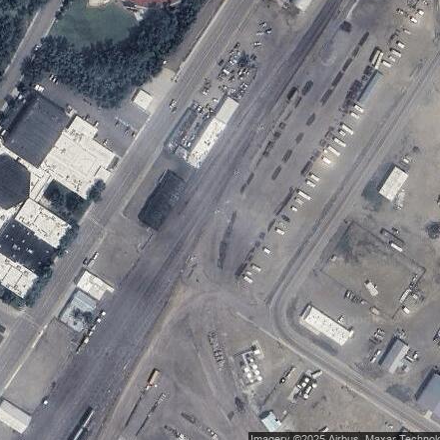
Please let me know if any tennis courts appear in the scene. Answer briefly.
No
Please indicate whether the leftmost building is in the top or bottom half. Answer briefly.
bottom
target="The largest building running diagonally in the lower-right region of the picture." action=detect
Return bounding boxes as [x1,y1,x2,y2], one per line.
[303,305,355,347]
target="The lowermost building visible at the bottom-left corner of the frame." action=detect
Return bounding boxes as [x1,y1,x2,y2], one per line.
[0,400,32,433]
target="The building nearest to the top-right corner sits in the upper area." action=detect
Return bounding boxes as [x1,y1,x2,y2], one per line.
[359,71,385,105]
